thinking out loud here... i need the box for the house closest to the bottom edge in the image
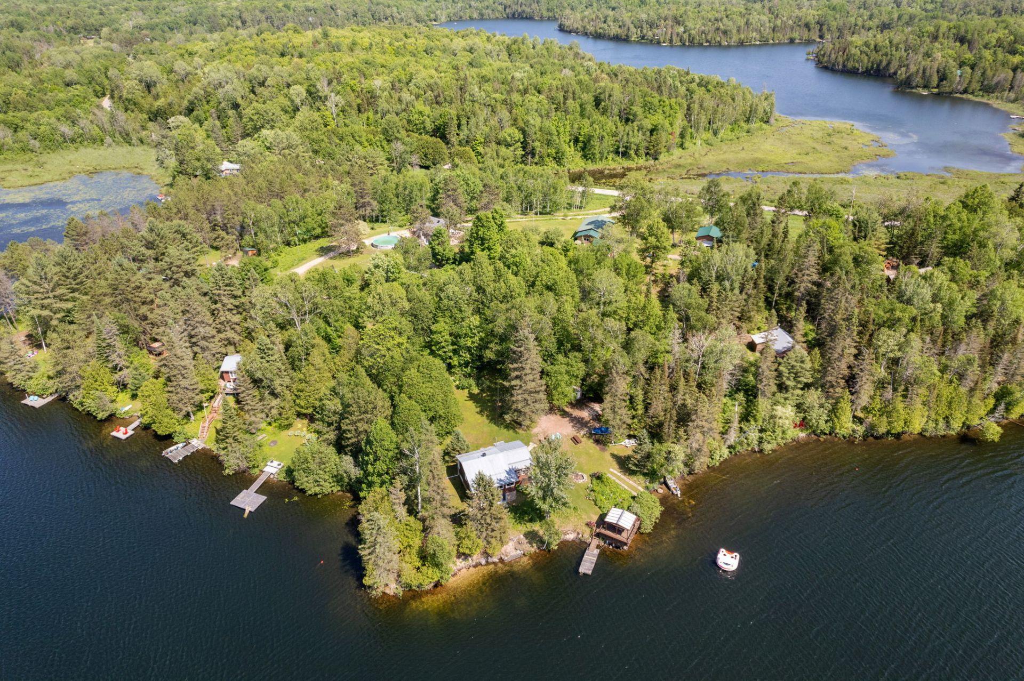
[448,433,542,511]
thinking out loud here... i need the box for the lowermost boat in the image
[665,476,684,498]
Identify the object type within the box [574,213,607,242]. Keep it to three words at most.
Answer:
building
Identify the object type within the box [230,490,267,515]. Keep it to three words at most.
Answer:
pier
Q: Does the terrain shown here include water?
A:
Yes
